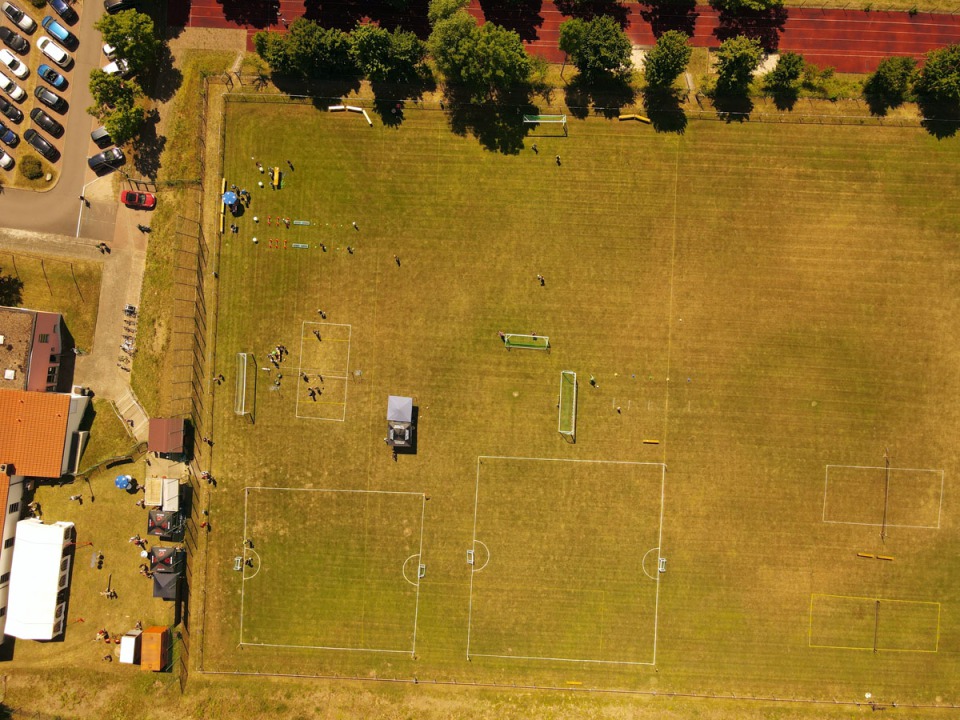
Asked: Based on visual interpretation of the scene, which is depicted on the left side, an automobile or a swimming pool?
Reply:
automobile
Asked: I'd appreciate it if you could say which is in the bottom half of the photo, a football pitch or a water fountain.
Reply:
football pitch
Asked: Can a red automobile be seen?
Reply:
Yes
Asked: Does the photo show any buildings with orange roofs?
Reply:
Yes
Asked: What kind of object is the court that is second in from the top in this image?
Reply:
tennis court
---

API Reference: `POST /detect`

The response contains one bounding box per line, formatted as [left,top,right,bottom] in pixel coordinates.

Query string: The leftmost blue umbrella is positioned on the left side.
[115,475,133,488]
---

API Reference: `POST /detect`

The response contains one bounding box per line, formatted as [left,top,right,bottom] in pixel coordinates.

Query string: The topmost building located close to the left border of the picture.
[0,303,79,392]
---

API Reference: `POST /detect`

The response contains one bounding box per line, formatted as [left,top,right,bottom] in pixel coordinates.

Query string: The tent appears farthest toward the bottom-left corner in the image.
[4,521,74,646]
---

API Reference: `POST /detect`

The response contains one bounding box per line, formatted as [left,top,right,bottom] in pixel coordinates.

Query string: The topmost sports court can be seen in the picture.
[296,322,352,420]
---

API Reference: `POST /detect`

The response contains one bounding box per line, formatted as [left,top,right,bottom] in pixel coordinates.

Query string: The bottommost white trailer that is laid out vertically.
[120,616,142,664]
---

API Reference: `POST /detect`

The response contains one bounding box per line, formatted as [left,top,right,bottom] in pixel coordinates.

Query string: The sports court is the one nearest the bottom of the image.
[809,594,940,652]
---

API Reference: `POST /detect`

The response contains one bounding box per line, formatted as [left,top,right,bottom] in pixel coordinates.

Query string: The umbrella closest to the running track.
[222,191,237,205]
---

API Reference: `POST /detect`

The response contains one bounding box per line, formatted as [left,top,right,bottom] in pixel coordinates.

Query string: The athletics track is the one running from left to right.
[162,0,960,78]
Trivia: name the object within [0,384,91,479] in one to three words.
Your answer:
house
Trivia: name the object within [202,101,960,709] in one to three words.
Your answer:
sports field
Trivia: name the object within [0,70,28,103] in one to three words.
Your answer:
car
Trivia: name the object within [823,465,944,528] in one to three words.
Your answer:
tennis court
